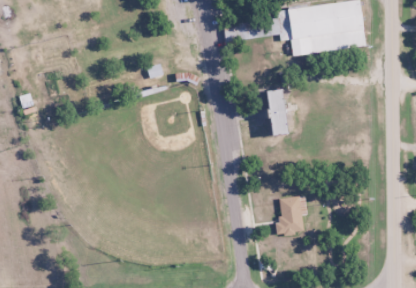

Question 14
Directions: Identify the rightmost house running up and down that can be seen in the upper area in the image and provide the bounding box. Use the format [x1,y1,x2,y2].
[268,89,290,136]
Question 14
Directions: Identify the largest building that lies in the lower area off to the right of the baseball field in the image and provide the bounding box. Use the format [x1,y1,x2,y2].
[276,197,308,236]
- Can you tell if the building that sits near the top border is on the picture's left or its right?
right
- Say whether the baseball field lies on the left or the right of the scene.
left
